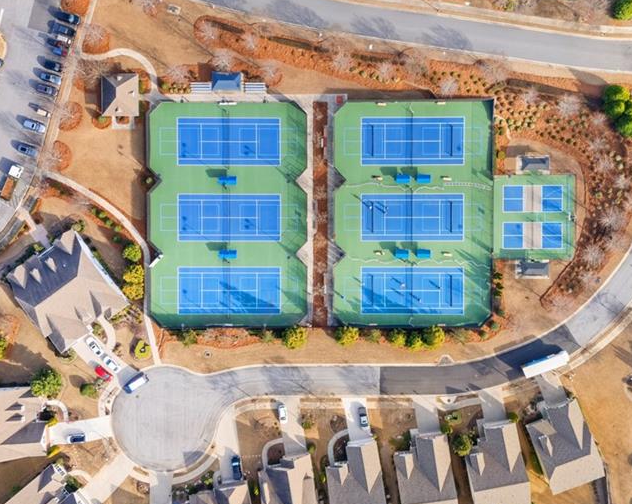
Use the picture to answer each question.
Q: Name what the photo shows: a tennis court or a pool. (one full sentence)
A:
Looking from above, you can make out a tennis court.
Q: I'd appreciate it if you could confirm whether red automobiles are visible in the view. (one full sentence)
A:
Yes, this view includes a red automobile.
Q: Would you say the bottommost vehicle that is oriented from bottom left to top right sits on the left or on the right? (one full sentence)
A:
The bottommost vehicle that is oriented from bottom left to top right sits on the left side.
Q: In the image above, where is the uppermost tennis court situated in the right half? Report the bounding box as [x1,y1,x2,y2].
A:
[334,99,493,179]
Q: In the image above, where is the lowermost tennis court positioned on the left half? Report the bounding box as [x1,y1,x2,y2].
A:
[149,255,306,327]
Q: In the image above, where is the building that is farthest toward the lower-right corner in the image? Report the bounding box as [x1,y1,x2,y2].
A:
[524,398,594,495]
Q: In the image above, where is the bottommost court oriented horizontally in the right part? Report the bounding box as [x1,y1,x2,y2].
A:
[334,255,493,326]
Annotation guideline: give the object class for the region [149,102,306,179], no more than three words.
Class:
tennis court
